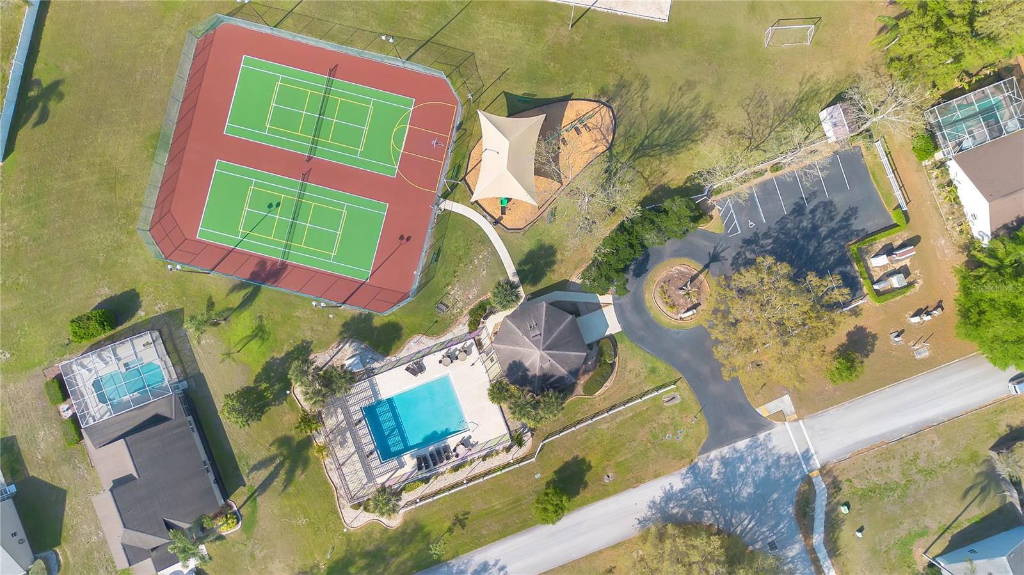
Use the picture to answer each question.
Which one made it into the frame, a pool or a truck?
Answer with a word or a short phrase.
pool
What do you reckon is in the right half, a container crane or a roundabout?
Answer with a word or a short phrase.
roundabout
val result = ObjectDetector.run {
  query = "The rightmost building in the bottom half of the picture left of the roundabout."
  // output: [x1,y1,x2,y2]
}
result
[494,303,591,398]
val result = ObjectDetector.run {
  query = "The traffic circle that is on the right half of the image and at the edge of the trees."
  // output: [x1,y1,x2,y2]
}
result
[625,238,730,350]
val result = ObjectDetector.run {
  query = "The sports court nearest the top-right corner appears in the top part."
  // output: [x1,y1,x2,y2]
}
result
[551,0,672,21]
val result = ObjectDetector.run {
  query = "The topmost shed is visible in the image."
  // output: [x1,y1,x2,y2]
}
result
[812,100,865,145]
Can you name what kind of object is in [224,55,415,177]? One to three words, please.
tennis court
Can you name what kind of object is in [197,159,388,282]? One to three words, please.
tennis court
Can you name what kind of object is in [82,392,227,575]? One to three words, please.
house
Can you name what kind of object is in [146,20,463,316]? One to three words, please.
sports court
